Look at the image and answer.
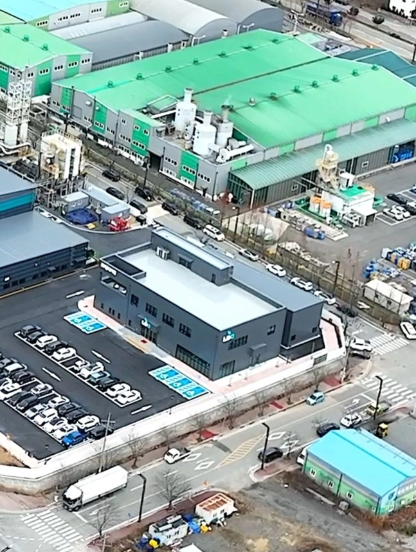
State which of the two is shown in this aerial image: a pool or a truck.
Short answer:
truck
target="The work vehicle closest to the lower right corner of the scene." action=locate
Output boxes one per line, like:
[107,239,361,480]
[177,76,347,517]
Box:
[377,422,396,439]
